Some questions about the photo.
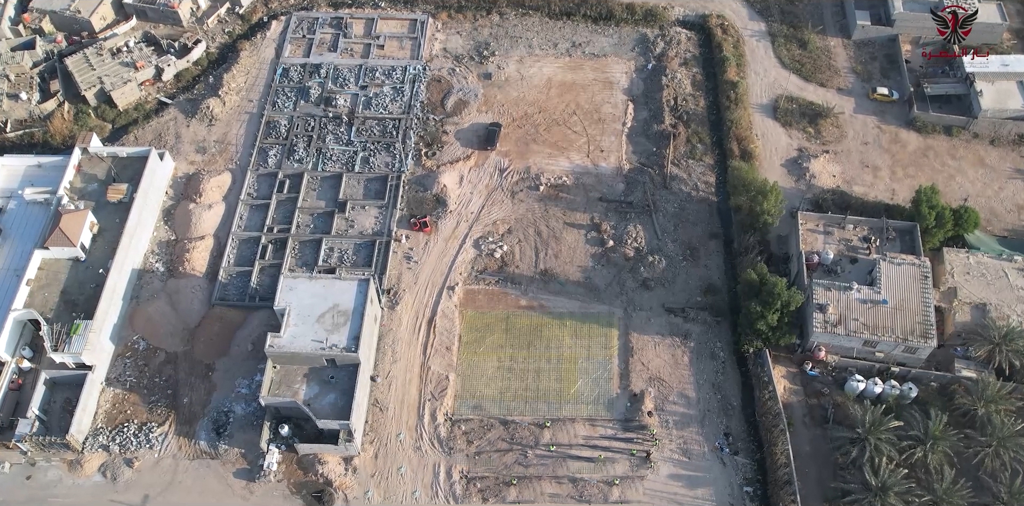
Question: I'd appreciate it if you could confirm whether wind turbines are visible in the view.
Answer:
No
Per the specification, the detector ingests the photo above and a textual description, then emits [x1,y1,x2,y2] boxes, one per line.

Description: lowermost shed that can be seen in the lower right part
[946,359,994,379]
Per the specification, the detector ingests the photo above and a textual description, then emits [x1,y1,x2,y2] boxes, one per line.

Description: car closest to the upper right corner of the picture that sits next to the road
[870,87,902,103]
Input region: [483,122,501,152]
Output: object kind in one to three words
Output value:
car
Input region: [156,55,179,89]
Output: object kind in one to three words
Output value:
shed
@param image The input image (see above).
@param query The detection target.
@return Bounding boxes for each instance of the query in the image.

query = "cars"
[483,122,501,152]
[870,87,902,103]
